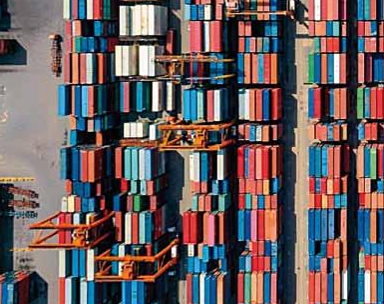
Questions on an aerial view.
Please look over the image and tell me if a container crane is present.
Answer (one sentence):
Yes, looking at the shot, I can spot a container crane.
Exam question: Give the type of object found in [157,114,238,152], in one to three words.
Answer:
container crane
